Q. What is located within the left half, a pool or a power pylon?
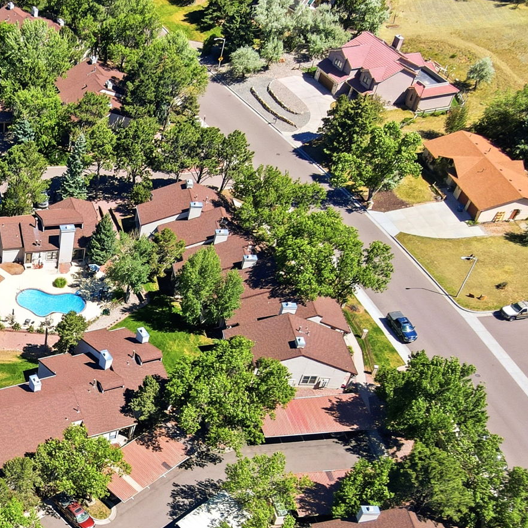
pool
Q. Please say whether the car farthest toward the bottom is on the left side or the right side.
left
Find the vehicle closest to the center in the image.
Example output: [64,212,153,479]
[386,310,421,344]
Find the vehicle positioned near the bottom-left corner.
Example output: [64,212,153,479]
[55,494,92,528]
